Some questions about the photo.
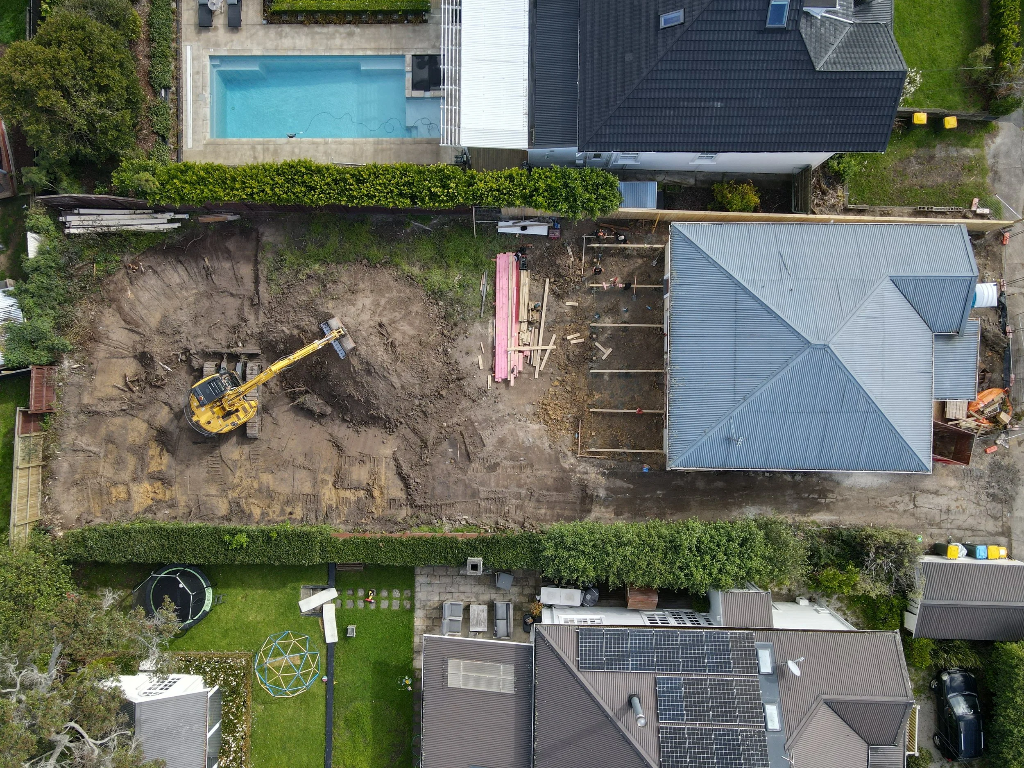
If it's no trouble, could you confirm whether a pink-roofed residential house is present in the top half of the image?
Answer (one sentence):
No, I see no pink-roofed residential house in the top half of the image.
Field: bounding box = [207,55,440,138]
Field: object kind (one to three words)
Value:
swimming pool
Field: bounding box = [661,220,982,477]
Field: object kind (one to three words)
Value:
house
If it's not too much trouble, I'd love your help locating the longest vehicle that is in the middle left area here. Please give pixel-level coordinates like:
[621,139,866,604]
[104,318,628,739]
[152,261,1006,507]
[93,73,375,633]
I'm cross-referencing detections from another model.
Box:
[184,313,363,439]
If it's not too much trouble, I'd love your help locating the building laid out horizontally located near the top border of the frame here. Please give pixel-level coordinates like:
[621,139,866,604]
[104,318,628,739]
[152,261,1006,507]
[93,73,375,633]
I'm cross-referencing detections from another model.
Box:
[528,0,910,175]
